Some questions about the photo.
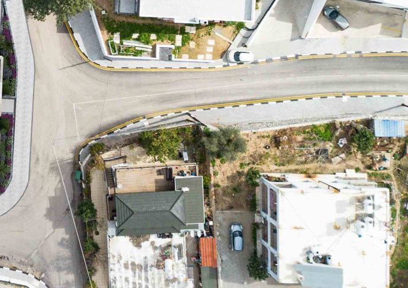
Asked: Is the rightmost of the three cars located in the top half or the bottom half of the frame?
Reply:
top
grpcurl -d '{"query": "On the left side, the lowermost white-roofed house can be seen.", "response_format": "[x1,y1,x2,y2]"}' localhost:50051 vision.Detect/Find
[103,214,196,288]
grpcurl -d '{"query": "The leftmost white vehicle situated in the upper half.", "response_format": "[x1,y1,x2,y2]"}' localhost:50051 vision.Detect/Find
[227,51,254,63]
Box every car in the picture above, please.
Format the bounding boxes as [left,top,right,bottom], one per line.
[321,4,352,33]
[228,223,244,251]
[227,51,254,63]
